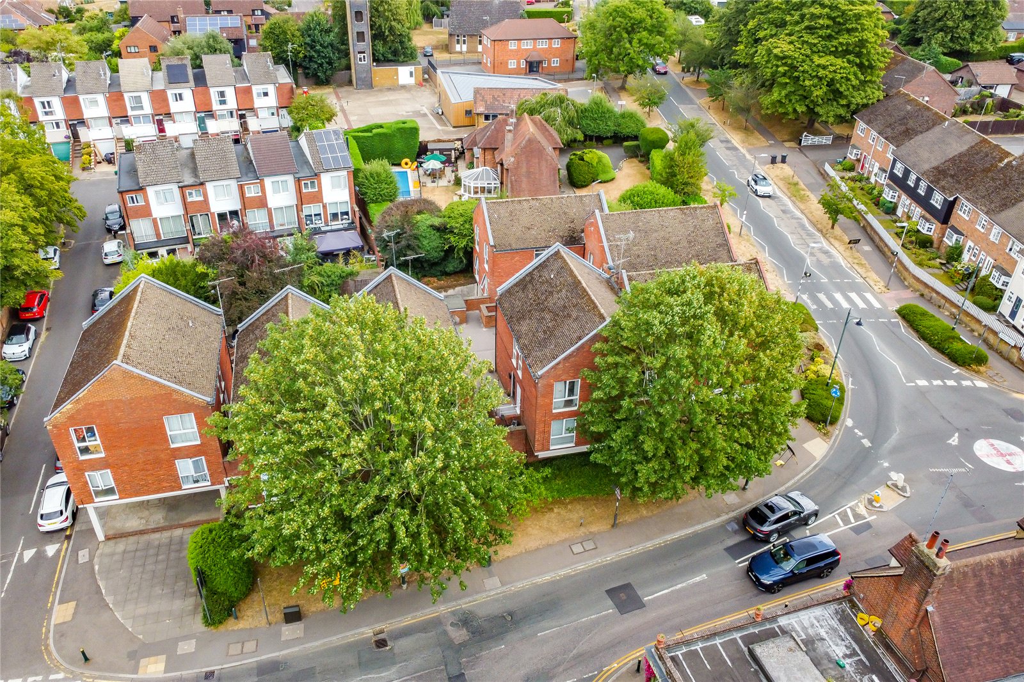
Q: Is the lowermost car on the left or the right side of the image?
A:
right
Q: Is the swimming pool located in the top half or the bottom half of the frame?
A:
top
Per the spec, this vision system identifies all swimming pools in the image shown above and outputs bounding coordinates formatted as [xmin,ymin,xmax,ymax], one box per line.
[387,166,413,200]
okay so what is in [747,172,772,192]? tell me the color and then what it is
white car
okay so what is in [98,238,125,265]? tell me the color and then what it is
white car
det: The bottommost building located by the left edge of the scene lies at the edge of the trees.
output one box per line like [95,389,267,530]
[41,276,237,542]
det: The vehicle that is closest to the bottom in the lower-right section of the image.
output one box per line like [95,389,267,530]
[742,531,847,594]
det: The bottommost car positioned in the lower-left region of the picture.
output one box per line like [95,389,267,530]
[28,472,76,540]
